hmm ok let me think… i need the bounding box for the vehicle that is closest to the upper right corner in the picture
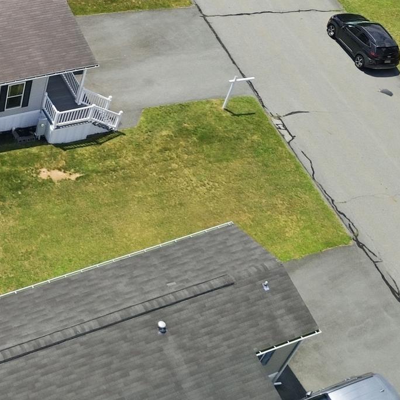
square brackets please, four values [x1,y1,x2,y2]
[327,13,400,73]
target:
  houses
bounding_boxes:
[0,0,124,144]
[0,220,324,400]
